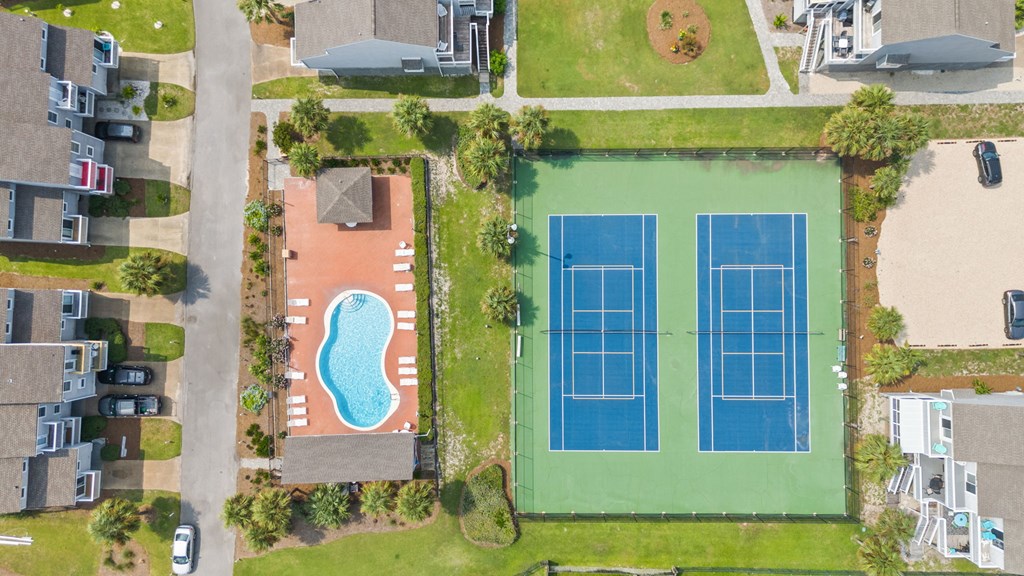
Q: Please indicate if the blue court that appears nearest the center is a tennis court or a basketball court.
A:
tennis court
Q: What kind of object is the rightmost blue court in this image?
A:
tennis court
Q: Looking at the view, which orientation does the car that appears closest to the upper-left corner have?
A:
horizontally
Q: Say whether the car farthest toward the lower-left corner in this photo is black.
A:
No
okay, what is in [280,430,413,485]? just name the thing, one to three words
building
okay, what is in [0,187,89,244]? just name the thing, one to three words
house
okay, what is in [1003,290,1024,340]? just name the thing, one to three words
car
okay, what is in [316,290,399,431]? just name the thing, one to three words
swimming pool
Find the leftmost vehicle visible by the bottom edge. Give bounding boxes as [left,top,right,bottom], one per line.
[167,525,194,576]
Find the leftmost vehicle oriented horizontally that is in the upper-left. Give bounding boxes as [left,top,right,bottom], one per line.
[98,117,146,140]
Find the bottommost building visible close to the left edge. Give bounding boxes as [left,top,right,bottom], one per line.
[0,439,103,519]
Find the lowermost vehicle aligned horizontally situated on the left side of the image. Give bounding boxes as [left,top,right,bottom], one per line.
[98,394,161,419]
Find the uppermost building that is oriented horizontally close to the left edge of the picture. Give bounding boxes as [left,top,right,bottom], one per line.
[0,14,119,99]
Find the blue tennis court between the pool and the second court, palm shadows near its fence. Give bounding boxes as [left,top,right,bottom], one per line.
[548,214,660,452]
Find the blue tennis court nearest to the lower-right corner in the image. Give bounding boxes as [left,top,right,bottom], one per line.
[697,212,810,453]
